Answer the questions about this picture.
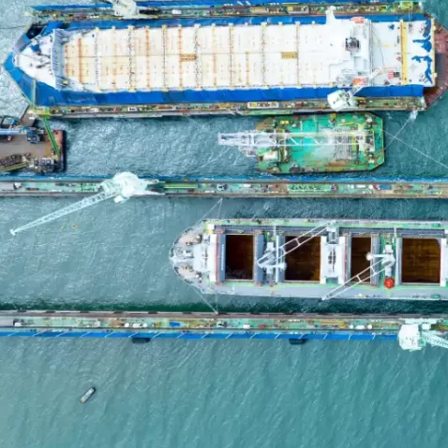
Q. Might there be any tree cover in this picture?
No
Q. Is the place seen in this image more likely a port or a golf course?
port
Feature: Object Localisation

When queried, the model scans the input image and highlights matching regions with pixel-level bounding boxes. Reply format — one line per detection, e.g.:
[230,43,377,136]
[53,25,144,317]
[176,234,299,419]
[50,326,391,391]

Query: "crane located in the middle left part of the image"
[8,169,180,237]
